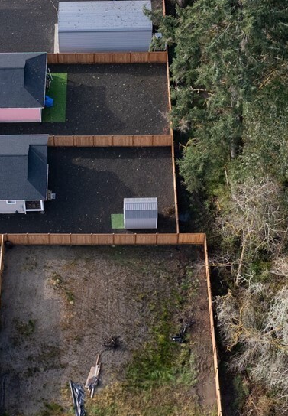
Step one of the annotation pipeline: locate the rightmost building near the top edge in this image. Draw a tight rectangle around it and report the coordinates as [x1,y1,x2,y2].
[57,0,151,51]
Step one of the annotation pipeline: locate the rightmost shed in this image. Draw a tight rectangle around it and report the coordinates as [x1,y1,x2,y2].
[123,201,158,228]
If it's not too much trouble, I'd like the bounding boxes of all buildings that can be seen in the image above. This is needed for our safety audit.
[0,135,49,212]
[123,201,158,228]
[57,0,151,51]
[0,53,48,122]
